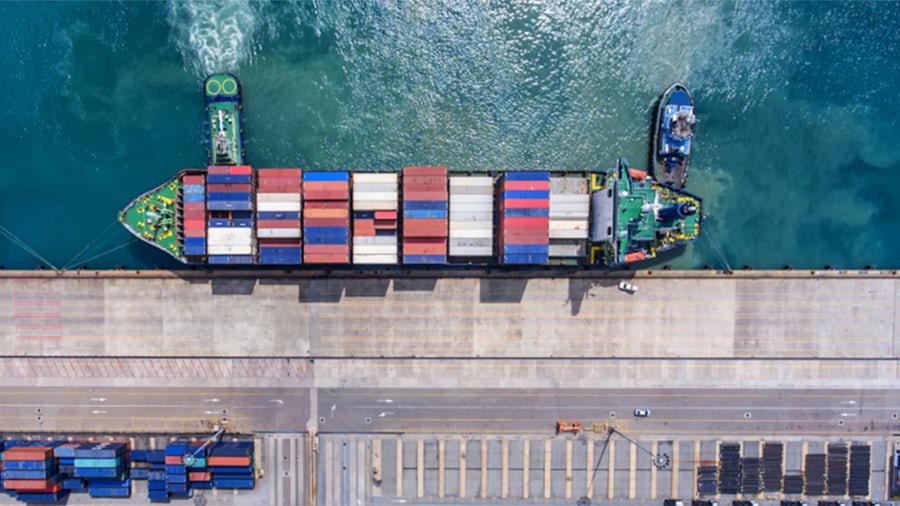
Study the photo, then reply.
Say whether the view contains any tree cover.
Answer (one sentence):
No, tree cover can't be seen anywhere here.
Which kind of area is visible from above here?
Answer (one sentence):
The area seen from above is a port.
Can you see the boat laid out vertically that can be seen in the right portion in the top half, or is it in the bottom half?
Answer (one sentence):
You can find the boat laid out vertically that can be seen in the right portion in the top half.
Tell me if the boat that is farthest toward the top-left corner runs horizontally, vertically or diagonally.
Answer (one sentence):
The boat that is farthest toward the top-left corner is laid out vertically.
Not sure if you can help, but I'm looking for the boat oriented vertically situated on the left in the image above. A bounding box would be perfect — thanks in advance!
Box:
[204,74,242,166]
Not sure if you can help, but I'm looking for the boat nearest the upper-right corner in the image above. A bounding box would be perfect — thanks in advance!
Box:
[653,83,695,189]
